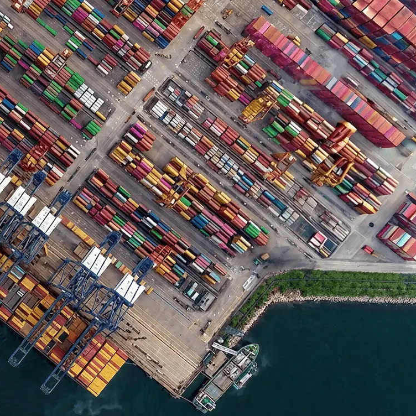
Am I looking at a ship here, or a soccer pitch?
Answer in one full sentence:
I can see a ship in this picture.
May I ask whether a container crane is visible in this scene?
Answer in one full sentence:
Yes, the photo shows a container crane.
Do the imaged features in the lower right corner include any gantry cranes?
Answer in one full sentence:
No, no gantry crane appears in the lower right corner.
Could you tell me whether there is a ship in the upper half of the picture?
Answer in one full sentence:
No, I can find no ship in the upper half of the picture.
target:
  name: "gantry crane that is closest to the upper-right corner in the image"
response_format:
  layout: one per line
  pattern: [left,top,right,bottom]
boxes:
[317,118,362,158]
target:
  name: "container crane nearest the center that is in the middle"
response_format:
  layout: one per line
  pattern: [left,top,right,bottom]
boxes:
[152,166,204,215]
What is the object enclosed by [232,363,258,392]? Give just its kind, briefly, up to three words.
boat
